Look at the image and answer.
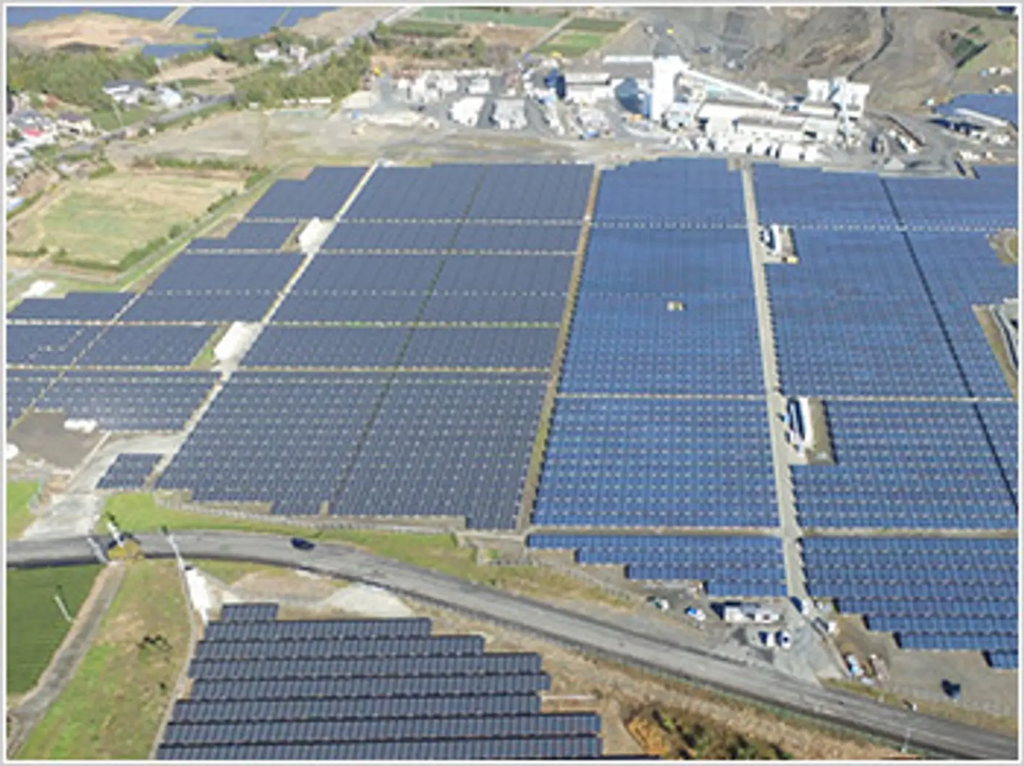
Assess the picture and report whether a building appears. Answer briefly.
Yes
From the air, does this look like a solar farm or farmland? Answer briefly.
solar farm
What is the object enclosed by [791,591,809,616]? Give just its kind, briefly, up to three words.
vehicle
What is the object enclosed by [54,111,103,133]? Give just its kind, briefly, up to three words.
house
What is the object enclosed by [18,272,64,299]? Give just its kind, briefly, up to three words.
shed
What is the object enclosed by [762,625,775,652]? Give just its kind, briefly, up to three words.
vehicle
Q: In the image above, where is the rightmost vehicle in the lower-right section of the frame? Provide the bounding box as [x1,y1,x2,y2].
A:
[941,679,965,702]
